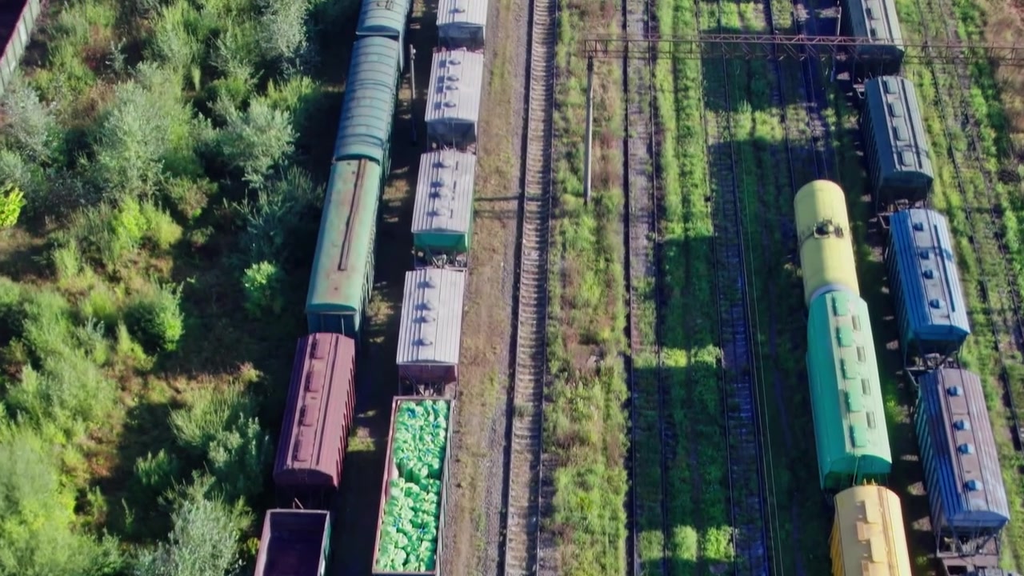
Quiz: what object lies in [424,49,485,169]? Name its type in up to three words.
rail car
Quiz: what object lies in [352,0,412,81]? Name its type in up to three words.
rail car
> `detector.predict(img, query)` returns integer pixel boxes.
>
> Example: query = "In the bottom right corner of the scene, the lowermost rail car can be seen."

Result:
[830,487,911,576]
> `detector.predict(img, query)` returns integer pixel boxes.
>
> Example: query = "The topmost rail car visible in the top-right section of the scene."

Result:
[841,0,909,110]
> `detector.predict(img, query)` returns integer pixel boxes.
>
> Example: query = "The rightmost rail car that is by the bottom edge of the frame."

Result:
[911,376,1009,576]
